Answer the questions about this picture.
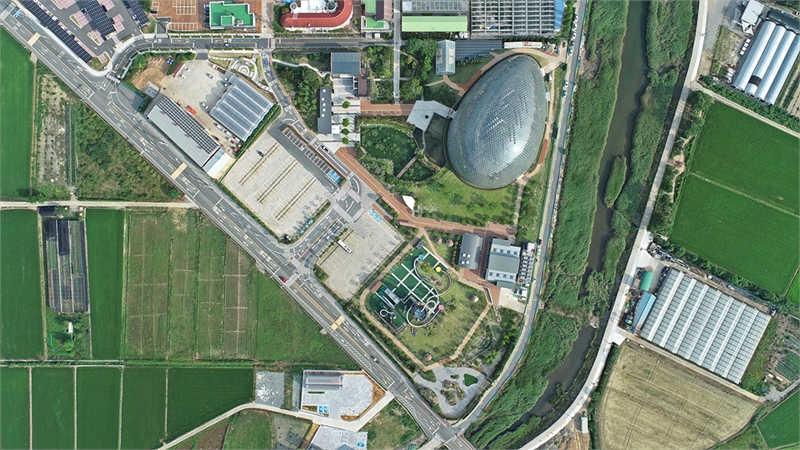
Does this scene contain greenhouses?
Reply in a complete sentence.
Yes, a greenhouse appears in the view.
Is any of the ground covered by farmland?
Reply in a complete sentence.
Yes, the picture does contain farmland.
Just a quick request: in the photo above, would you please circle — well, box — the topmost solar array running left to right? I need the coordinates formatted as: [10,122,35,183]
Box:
[455,39,502,61]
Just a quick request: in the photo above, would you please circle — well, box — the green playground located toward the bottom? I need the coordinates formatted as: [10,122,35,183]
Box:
[369,246,451,334]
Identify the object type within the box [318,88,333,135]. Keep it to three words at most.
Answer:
building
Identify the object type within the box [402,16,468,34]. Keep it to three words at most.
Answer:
shed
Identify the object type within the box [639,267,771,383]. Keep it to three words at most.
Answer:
greenhouse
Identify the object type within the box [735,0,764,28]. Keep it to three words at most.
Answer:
building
